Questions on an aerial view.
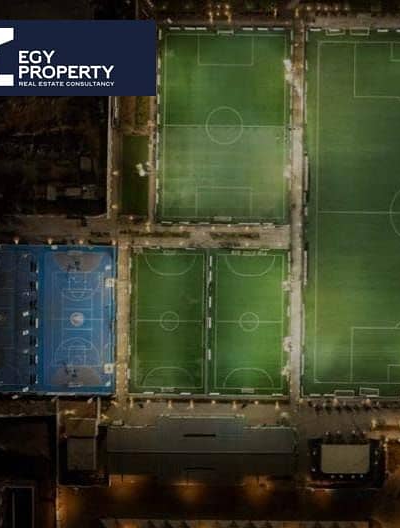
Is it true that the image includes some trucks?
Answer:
No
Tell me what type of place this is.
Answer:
sports ground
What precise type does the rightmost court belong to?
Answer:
basketball court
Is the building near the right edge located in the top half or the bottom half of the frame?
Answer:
bottom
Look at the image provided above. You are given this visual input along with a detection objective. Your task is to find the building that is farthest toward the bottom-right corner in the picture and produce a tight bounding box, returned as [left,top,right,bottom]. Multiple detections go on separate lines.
[311,438,384,486]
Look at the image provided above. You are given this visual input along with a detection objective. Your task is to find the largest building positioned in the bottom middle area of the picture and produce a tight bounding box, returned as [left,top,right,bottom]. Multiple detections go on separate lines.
[106,413,296,478]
